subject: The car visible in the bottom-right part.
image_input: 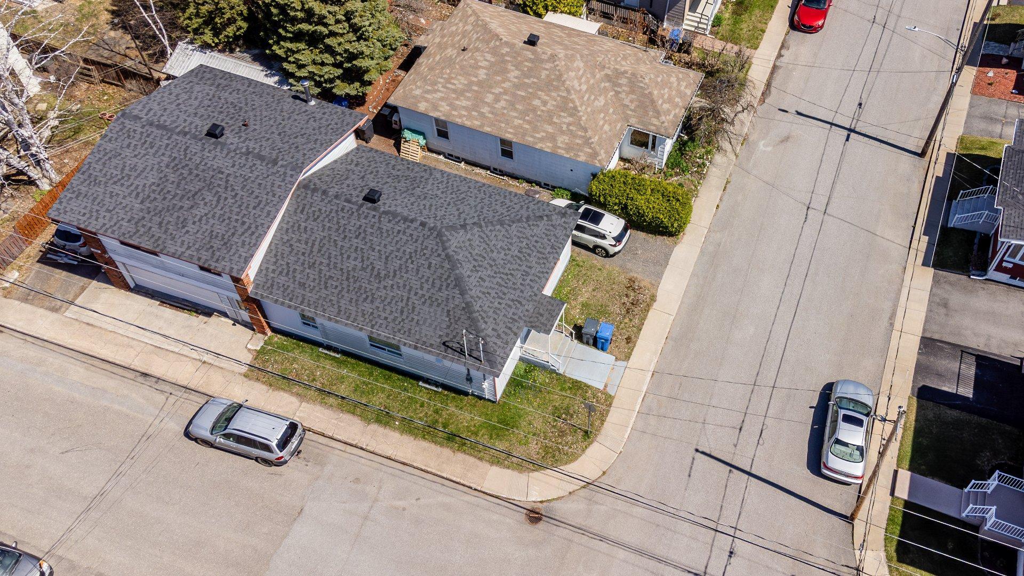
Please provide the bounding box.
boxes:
[815,373,883,486]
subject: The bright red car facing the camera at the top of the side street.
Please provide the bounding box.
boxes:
[793,0,839,38]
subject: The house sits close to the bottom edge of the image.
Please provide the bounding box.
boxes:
[890,453,1024,576]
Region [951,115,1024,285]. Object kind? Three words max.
house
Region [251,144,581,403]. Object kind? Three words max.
house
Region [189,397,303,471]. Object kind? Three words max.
car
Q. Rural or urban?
urban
